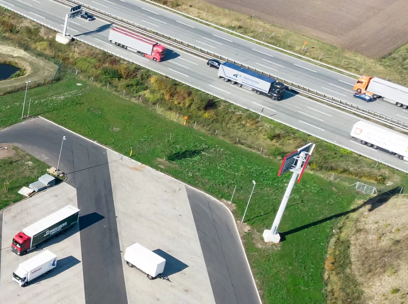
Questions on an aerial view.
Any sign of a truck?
Yes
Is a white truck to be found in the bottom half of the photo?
Yes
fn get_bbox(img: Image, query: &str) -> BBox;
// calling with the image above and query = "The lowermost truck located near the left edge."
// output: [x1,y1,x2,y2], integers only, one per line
[9,249,57,288]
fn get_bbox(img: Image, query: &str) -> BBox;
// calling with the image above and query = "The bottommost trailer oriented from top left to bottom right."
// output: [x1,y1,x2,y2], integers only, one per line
[123,243,169,282]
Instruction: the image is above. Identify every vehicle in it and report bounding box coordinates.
[9,249,57,288]
[77,13,95,22]
[10,205,80,255]
[206,60,221,68]
[353,93,374,104]
[349,122,408,163]
[217,61,287,100]
[354,76,408,110]
[108,27,168,63]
